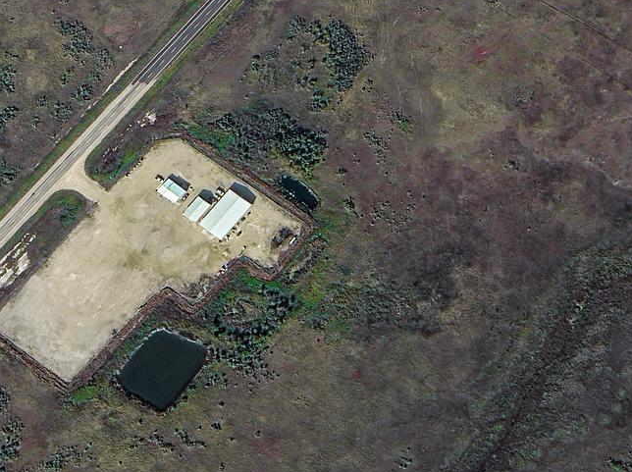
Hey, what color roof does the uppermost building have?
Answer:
white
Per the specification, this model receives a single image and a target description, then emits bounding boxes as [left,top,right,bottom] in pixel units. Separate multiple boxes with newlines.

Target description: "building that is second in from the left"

[184,195,211,223]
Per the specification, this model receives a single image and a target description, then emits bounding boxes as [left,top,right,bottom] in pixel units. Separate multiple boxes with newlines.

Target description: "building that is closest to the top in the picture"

[158,176,186,204]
